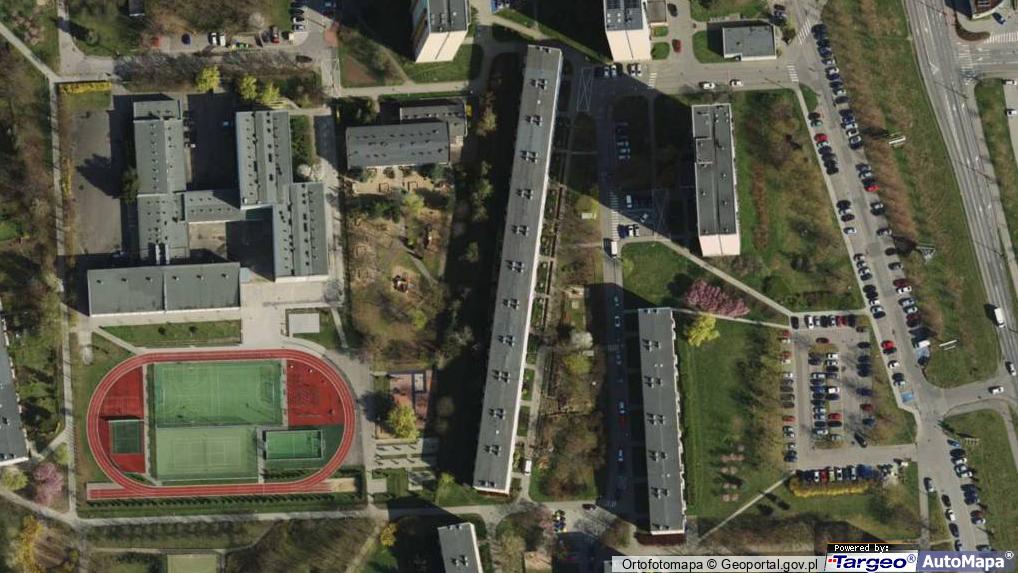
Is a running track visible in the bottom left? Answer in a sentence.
Yes, in the bottom left there is a running track.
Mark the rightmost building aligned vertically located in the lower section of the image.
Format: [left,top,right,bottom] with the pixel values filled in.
[638,306,689,534]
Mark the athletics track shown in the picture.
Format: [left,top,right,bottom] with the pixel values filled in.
[86,348,356,501]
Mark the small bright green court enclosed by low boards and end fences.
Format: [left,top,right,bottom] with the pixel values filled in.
[265,429,325,461]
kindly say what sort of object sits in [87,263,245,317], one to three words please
building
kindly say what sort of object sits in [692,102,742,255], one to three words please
building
